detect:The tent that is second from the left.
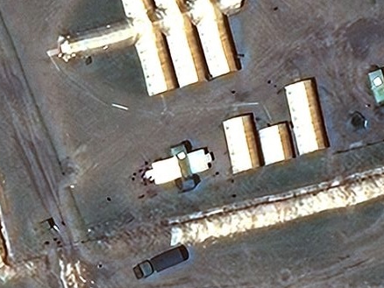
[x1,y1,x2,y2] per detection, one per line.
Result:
[258,126,291,166]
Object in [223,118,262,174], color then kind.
white tent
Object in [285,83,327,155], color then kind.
white tent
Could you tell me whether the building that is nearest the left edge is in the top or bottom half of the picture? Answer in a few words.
top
